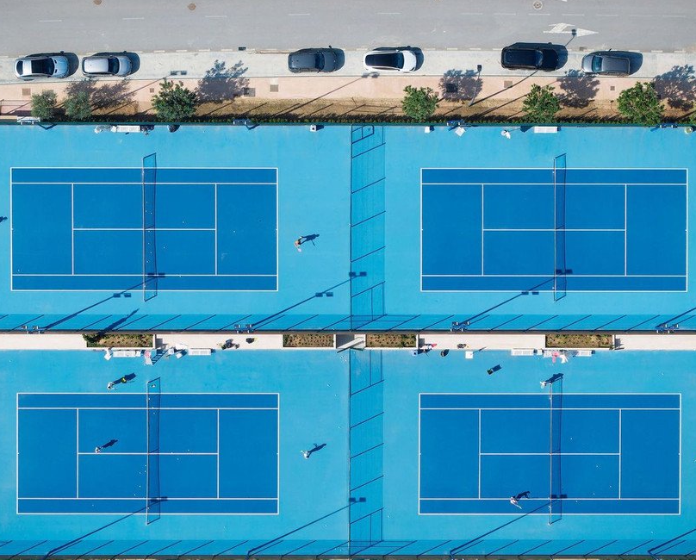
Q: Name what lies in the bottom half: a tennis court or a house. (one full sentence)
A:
You can see a tennis court in the bottom half.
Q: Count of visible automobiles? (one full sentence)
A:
Looking from above, you can make out 6 automobiles.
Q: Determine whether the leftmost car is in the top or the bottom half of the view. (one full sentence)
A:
The leftmost car sits in the top half of the picture.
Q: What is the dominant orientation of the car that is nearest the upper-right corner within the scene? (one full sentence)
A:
In this picture, the car that is nearest the upper-right corner lies horizontally.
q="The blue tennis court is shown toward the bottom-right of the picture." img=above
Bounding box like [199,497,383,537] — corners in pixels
[349,350,696,555]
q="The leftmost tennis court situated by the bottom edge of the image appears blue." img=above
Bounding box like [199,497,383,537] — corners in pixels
[0,350,349,555]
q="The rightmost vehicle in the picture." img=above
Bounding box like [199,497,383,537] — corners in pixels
[582,50,632,74]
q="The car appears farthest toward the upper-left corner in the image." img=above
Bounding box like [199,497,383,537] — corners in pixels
[15,54,68,78]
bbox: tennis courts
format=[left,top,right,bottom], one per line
[349,350,696,555]
[0,350,349,555]
[0,124,351,331]
[352,124,696,331]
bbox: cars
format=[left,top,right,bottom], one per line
[83,52,128,76]
[364,47,416,72]
[288,46,336,72]
[582,50,632,74]
[502,43,558,70]
[15,54,68,78]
